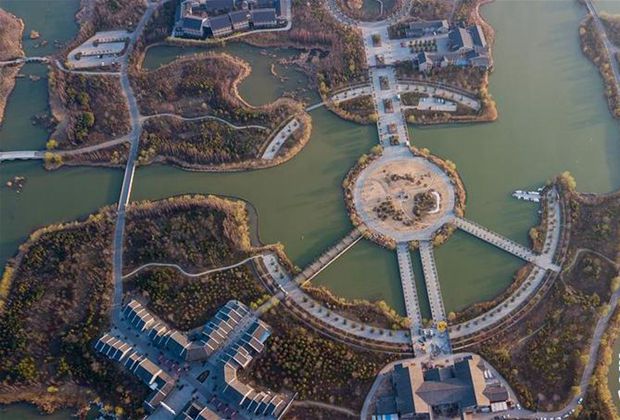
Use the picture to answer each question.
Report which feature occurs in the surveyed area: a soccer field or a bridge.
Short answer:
bridge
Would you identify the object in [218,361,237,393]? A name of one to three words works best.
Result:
house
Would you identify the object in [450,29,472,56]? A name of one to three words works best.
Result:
building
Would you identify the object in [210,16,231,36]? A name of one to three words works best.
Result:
house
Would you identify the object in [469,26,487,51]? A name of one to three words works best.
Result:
building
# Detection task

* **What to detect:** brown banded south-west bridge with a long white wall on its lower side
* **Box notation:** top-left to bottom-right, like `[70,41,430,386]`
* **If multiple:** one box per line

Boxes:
[293,226,361,286]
